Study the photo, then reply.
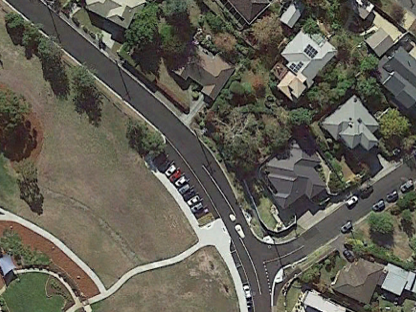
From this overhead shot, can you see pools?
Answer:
No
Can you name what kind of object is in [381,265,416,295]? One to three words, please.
house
